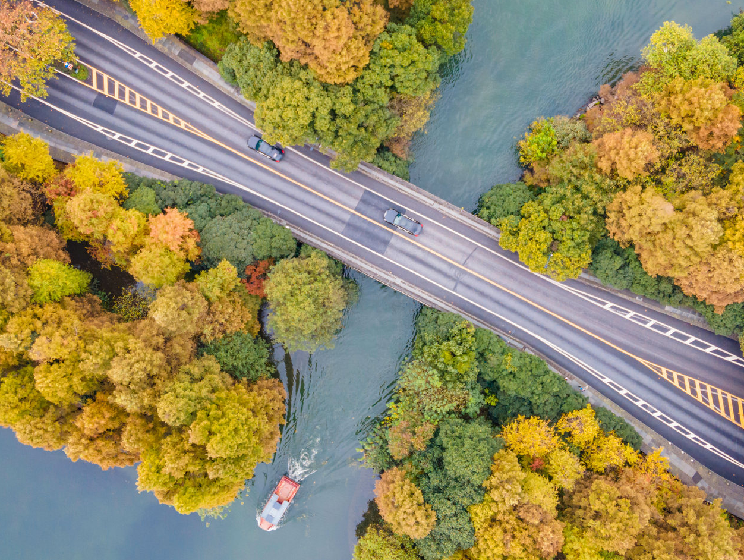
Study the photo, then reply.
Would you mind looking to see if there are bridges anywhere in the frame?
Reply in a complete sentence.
Yes, a bridge is visible in the scene.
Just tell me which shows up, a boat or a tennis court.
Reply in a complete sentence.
Of the two, only a boat appears.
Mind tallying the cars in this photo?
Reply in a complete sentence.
The number of cars here is 2.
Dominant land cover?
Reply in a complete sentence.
The bulk of the photo consists of trees.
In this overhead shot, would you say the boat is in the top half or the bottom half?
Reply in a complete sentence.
It is in the bottom half that the boat appears.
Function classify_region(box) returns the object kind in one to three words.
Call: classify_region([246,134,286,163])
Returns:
car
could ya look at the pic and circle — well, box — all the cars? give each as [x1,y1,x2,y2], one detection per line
[246,134,286,163]
[383,207,424,237]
